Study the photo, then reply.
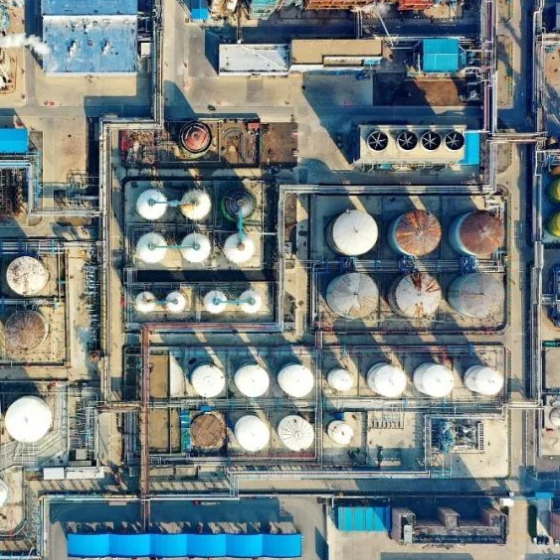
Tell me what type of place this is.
industrial area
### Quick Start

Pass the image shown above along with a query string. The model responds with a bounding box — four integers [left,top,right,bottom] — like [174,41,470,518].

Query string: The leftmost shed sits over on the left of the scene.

[0,129,29,154]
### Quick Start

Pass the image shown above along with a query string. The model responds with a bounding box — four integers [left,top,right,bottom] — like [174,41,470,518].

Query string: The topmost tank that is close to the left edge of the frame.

[6,256,50,298]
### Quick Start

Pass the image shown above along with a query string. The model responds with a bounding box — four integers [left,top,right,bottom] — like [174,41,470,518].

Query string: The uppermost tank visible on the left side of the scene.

[178,120,213,156]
